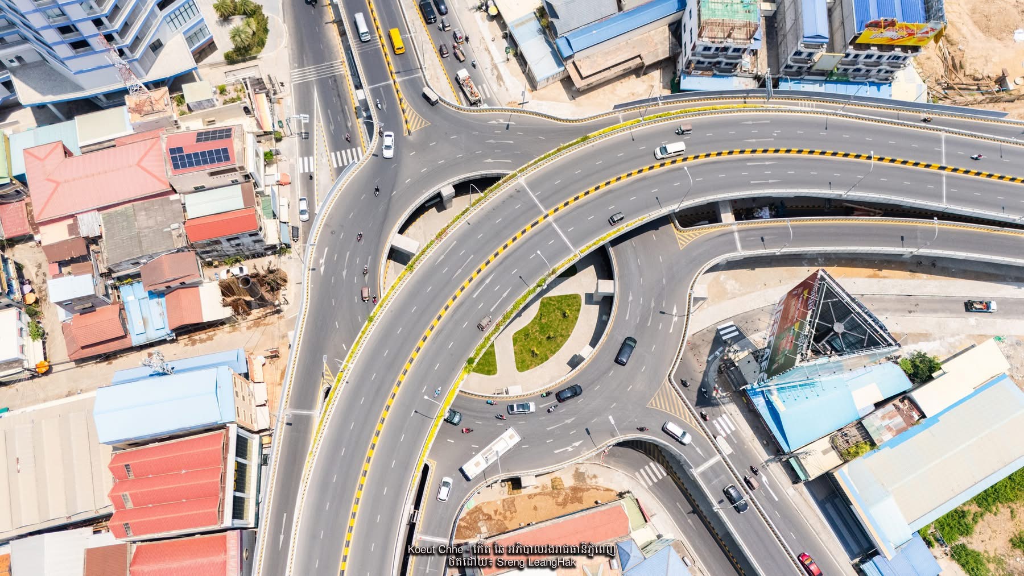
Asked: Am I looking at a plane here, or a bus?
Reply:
bus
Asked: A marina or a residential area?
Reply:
residential area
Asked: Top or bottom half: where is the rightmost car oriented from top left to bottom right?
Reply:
bottom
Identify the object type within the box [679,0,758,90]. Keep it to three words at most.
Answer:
house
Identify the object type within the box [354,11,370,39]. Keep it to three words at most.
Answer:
vehicle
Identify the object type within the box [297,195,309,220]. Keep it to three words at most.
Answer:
vehicle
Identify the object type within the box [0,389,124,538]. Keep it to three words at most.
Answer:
warehouse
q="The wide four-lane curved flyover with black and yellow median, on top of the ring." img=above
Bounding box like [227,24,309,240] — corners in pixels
[284,106,1024,576]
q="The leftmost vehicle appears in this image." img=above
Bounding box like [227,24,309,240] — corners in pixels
[220,265,248,279]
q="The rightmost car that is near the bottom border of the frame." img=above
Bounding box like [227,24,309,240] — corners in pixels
[799,552,825,576]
